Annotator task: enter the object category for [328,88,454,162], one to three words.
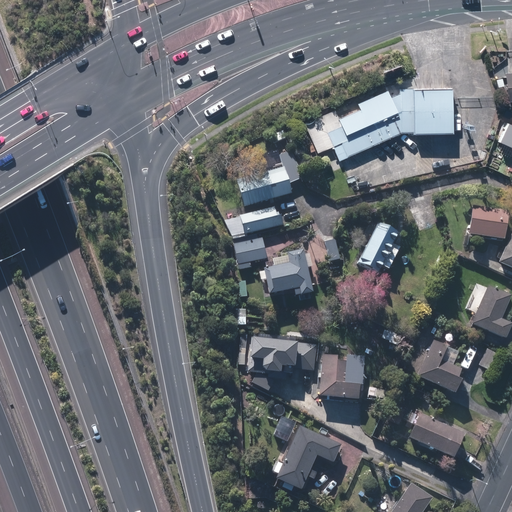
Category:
building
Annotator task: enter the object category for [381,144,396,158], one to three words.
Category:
car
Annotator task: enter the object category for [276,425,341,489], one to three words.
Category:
house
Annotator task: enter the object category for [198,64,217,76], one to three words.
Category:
vehicle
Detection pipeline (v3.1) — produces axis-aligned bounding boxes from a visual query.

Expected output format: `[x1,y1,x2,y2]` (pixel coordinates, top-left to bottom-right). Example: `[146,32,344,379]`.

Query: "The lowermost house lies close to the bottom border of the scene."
[392,482,434,512]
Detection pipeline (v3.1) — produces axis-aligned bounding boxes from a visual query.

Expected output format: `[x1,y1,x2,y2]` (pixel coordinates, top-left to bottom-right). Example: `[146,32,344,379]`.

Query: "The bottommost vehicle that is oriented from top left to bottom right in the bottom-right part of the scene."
[465,454,484,472]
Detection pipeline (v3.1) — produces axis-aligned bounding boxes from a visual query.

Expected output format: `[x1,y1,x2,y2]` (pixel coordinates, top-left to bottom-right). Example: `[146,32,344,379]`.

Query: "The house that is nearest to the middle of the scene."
[234,237,267,269]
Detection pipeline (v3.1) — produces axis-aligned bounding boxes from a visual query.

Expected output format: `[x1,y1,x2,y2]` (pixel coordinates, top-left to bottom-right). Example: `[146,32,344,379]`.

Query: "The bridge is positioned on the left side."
[0,70,74,214]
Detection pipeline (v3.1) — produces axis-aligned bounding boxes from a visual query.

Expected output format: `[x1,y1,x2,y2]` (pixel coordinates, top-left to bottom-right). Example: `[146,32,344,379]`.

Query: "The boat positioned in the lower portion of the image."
[460,347,476,369]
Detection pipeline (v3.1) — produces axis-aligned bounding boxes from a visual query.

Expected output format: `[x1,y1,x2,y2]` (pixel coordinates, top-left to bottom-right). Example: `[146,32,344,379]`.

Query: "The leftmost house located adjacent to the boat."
[419,340,467,392]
